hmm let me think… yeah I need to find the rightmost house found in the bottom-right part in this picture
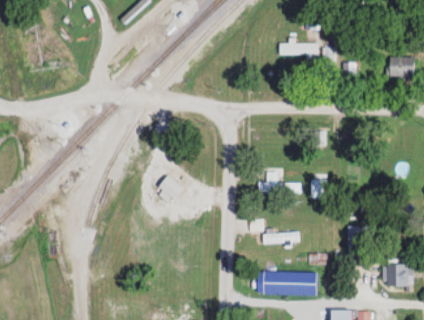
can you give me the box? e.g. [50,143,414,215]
[380,258,414,289]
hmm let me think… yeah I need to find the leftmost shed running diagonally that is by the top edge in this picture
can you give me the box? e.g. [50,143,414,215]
[119,0,152,28]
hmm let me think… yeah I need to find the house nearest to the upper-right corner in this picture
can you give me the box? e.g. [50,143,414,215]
[388,58,415,78]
